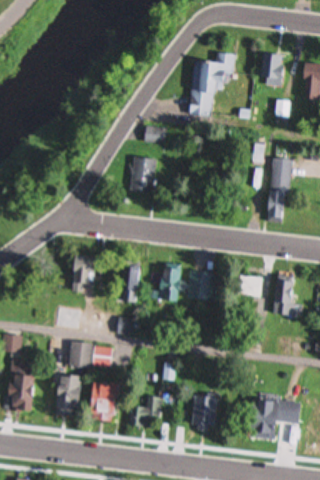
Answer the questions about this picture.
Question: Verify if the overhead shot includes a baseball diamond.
No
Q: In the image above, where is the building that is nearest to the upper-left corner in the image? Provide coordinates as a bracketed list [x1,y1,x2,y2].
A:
[144,125,166,142]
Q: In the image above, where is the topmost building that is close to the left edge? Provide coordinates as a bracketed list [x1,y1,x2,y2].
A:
[4,334,24,353]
